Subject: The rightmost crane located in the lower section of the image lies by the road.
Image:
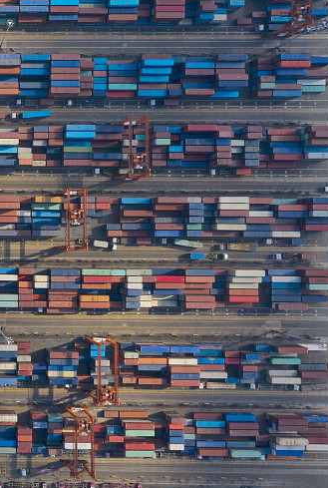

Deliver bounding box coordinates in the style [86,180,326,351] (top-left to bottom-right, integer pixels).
[87,333,119,408]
